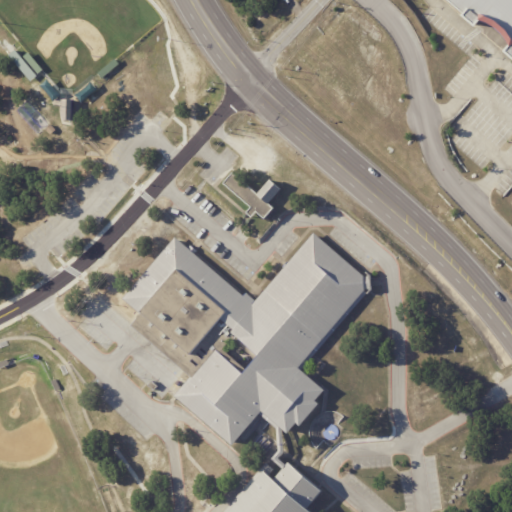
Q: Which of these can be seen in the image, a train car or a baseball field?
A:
baseball field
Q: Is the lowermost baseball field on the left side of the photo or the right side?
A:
left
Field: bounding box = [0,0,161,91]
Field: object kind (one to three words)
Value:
baseball field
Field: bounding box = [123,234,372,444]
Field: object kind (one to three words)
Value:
building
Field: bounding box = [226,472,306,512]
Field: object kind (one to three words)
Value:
building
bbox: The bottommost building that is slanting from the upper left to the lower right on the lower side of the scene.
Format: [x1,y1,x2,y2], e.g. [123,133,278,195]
[276,464,321,508]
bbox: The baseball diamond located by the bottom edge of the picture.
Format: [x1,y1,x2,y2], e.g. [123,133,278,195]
[0,358,107,512]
